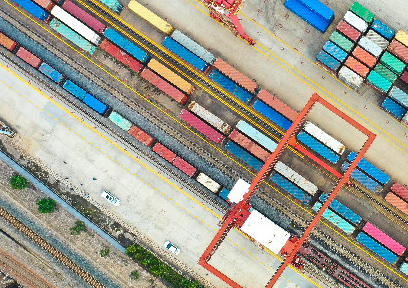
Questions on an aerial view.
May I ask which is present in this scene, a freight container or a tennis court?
freight container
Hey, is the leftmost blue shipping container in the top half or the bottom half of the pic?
top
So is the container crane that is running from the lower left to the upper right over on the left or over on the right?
right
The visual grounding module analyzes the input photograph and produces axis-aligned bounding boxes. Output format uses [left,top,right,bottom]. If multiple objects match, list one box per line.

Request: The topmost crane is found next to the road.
[204,0,257,48]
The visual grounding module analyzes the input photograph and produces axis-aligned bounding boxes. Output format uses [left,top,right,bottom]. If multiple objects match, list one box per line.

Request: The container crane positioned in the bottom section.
[201,95,375,288]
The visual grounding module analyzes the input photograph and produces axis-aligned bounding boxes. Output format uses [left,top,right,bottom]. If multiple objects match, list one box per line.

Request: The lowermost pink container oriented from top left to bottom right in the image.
[363,222,406,256]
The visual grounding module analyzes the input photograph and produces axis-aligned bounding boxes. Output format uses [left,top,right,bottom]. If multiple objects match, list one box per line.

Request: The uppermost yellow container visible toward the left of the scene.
[129,0,175,37]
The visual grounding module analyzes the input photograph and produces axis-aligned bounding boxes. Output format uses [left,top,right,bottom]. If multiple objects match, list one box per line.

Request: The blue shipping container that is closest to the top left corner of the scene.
[11,0,53,26]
